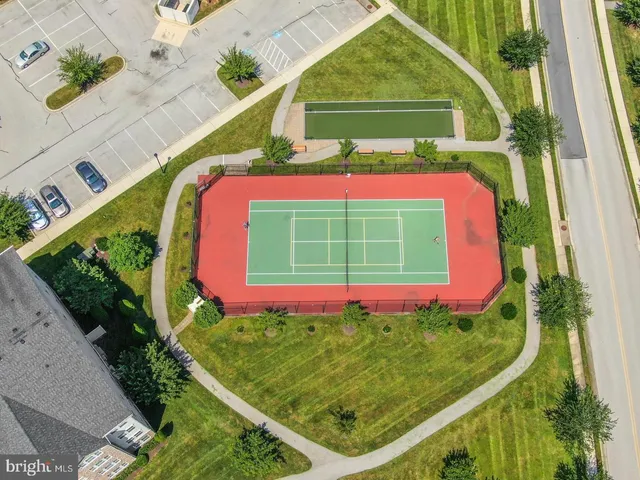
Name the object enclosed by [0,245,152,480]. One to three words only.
building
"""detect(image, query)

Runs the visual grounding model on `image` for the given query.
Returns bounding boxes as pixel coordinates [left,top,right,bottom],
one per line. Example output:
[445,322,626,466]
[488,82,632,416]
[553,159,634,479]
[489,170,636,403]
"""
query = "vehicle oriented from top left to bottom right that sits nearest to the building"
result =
[16,194,49,230]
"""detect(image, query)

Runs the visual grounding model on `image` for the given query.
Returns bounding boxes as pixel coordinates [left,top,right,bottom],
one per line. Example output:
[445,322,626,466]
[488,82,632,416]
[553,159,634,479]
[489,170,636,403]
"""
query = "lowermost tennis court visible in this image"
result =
[194,172,506,318]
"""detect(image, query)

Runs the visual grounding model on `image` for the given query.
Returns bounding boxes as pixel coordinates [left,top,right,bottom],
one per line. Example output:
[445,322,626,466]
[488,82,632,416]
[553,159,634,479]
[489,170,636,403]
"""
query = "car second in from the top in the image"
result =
[73,158,107,191]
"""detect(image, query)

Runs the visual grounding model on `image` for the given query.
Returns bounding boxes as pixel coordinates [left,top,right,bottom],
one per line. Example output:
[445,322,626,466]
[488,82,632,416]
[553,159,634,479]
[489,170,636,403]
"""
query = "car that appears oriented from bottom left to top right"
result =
[14,37,51,66]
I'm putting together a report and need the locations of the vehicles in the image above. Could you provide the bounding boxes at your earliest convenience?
[16,194,49,230]
[14,37,51,66]
[36,183,69,218]
[73,158,107,191]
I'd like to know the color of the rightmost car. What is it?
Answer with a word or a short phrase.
blue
